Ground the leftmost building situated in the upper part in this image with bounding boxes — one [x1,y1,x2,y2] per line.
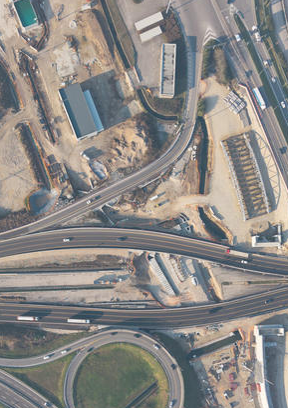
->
[58,83,104,141]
